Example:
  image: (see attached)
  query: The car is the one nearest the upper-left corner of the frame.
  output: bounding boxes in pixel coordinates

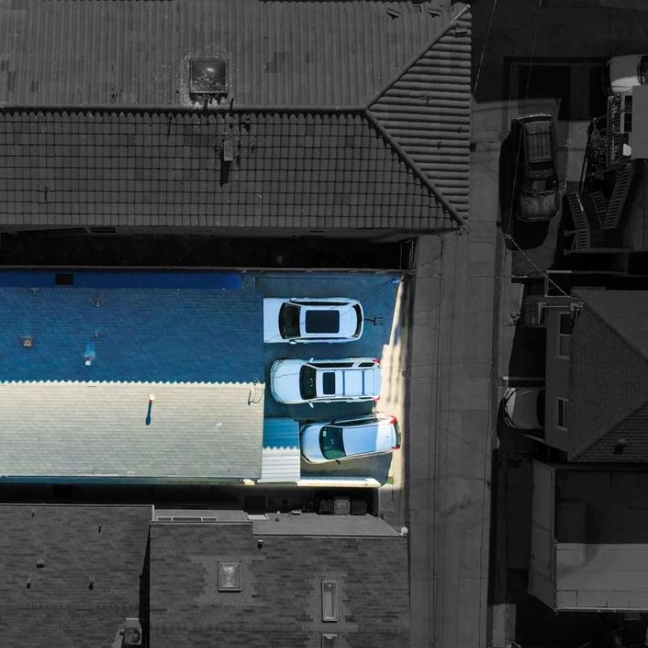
[262,293,365,346]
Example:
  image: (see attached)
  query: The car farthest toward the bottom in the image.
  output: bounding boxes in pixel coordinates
[300,411,404,465]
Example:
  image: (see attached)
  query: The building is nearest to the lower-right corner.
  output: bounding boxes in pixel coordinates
[529,463,648,611]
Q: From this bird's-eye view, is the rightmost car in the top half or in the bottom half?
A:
top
